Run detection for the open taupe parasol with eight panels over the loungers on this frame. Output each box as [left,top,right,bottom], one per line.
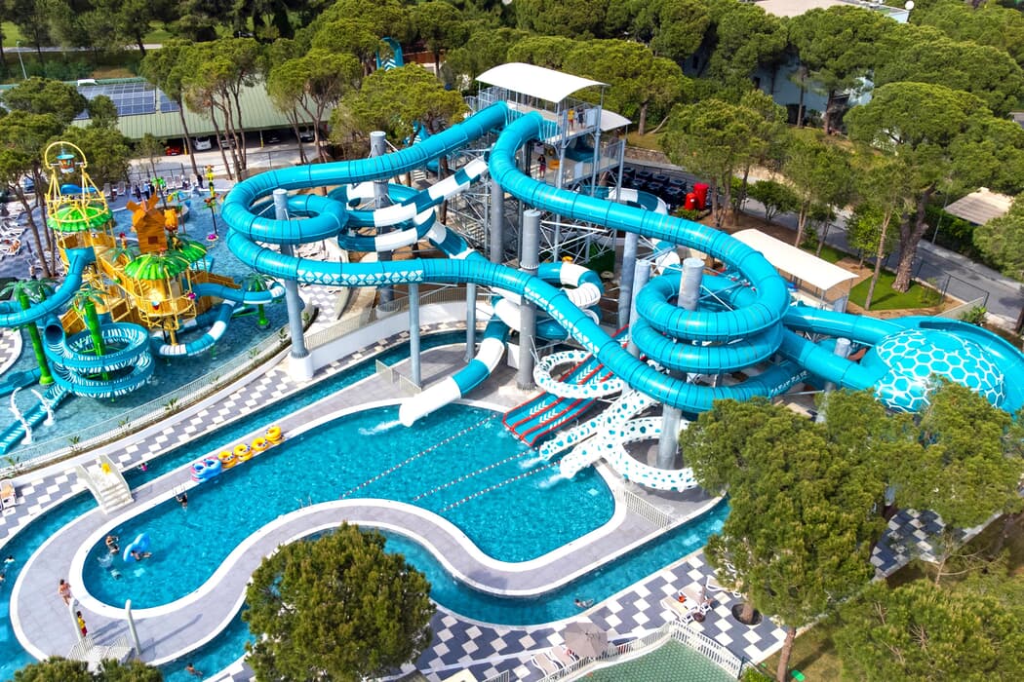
[566,619,610,671]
